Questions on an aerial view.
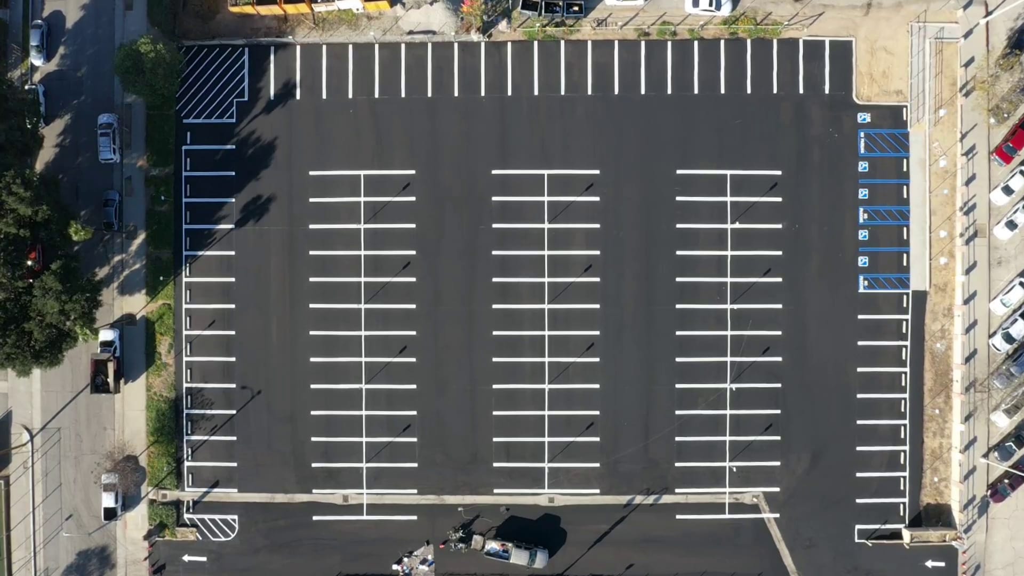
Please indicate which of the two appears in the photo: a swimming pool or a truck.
truck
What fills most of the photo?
paved ground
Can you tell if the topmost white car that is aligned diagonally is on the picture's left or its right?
right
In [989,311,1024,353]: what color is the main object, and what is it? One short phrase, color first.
white car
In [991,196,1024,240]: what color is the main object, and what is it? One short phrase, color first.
white car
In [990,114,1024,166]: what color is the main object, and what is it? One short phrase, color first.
red truck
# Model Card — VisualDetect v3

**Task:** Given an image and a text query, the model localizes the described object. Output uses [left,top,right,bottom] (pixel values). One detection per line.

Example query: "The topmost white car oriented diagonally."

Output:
[988,163,1024,206]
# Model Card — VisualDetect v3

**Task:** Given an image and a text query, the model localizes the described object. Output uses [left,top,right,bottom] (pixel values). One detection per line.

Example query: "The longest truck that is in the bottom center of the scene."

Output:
[485,536,546,567]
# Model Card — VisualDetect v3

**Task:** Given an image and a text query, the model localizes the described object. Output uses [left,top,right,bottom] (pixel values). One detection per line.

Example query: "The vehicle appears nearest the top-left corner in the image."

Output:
[26,19,51,67]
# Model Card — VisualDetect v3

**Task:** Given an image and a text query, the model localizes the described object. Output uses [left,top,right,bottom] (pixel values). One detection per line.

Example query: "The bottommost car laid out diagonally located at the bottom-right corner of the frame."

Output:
[986,466,1024,504]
